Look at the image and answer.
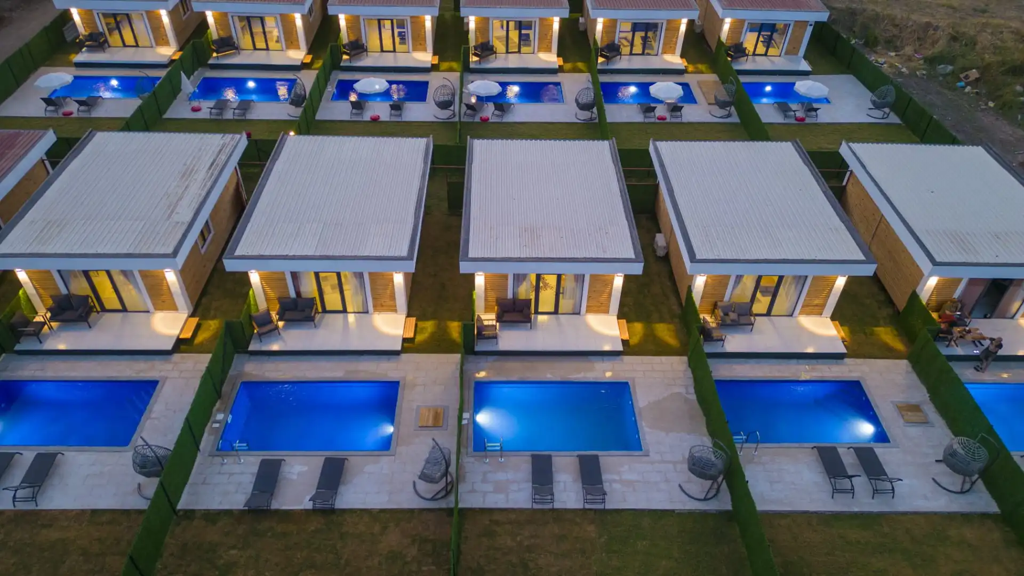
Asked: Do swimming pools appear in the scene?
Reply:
Yes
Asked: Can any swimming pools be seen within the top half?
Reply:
Yes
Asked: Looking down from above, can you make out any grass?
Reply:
Yes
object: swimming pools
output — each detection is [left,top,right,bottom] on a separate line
[745,81,836,108]
[43,74,165,100]
[465,376,650,458]
[207,375,407,457]
[714,376,900,449]
[184,75,301,102]
[960,378,1024,458]
[603,80,703,107]
[326,77,433,104]
[0,373,169,453]
[462,78,568,105]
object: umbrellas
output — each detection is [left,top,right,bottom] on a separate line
[465,80,502,120]
[648,80,685,120]
[352,79,391,119]
[31,74,73,115]
[791,81,829,120]
[184,71,201,110]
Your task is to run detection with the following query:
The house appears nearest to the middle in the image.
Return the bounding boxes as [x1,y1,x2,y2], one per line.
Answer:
[459,135,645,357]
